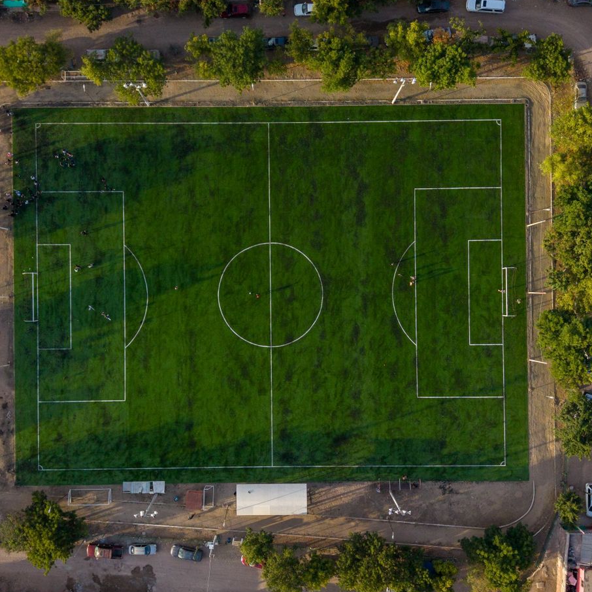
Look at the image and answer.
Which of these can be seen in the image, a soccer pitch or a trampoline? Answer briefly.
soccer pitch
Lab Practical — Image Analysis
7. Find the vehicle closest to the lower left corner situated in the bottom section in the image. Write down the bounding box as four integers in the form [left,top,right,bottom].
[87,543,124,558]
